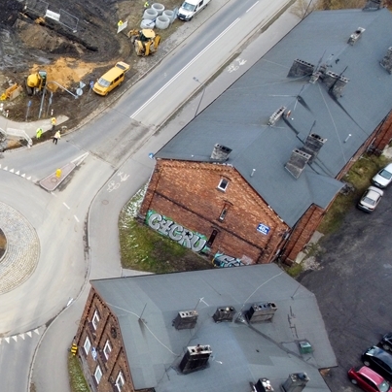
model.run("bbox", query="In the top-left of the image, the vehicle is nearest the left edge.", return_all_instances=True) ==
[25,63,51,102]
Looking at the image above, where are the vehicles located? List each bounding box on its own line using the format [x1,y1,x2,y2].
[360,342,392,383]
[371,163,392,189]
[182,0,210,17]
[25,63,51,102]
[94,58,133,94]
[356,183,388,214]
[130,25,157,61]
[350,364,392,392]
